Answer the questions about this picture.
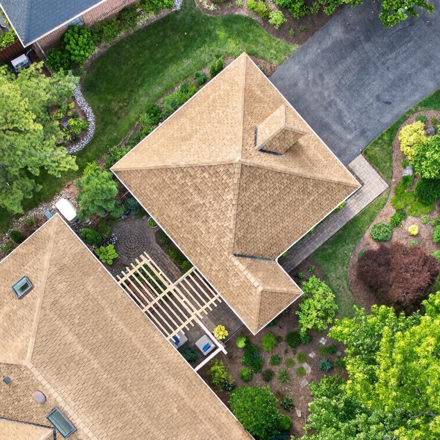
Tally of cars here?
0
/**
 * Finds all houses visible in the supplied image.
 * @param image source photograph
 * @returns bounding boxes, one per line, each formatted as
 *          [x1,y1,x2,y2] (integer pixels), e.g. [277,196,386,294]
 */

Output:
[0,212,256,440]
[0,0,125,53]
[110,50,363,336]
